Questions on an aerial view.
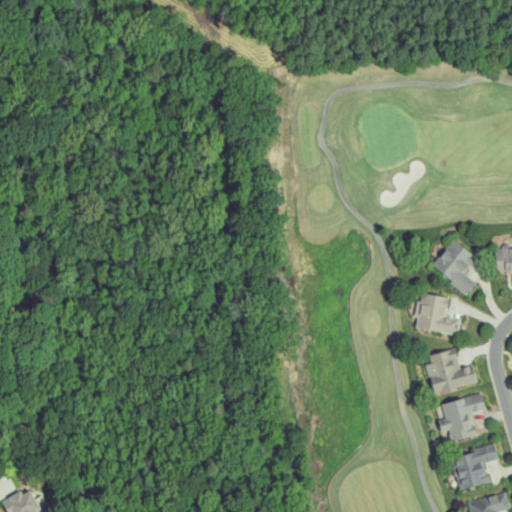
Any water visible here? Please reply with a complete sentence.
No, the scene doesn't show any water.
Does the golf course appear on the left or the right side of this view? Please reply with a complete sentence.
The golf course appears in the right half of the scene.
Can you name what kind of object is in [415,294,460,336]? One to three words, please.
house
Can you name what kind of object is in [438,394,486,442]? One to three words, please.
house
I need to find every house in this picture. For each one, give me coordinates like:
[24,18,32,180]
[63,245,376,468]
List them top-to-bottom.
[435,240,478,294]
[496,244,512,274]
[415,294,460,336]
[425,348,478,394]
[438,394,486,442]
[456,444,500,492]
[2,489,46,512]
[466,492,512,512]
